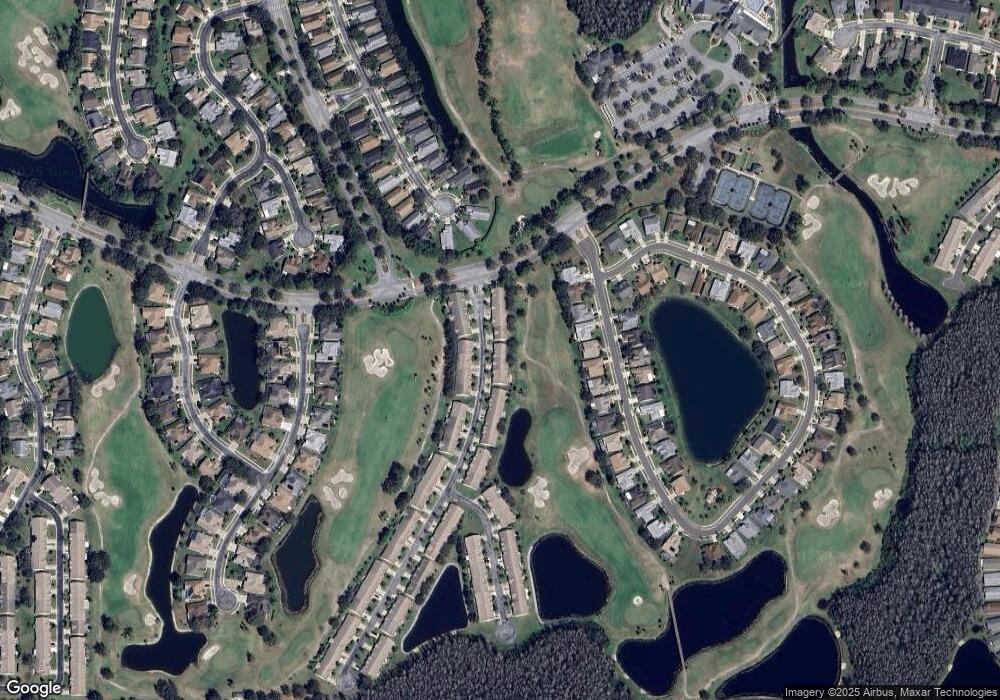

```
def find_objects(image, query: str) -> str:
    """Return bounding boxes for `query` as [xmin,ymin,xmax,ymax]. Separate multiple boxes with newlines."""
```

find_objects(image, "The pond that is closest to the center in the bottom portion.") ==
[499,408,532,485]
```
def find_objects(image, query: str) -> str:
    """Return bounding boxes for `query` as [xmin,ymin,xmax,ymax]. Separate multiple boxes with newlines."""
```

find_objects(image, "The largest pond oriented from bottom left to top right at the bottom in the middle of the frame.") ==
[403,565,467,651]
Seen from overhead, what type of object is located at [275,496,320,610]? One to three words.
pond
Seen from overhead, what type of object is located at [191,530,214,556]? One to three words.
house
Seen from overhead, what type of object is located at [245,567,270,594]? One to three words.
house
